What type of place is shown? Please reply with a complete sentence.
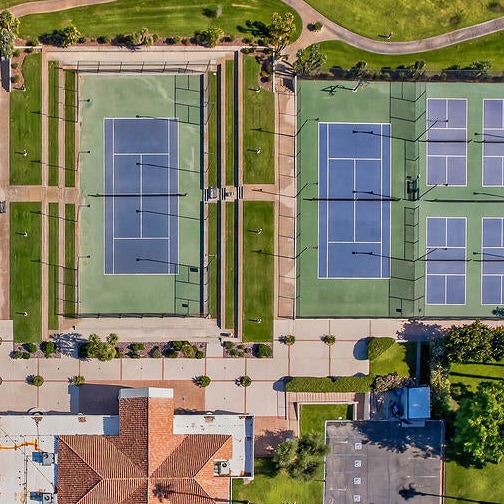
The area seen from above is a sports ground.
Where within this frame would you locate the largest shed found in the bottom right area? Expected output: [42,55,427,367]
[401,387,430,426]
